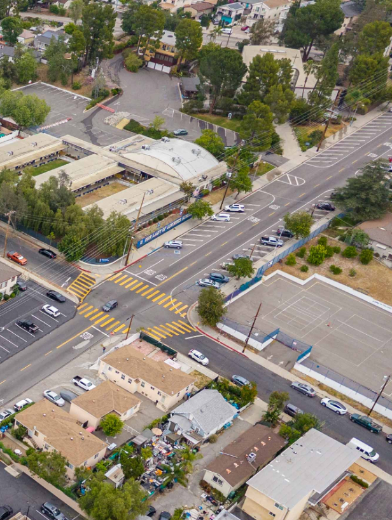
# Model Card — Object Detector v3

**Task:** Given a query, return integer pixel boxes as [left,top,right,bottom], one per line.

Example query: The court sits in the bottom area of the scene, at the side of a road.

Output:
[227,274,392,402]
